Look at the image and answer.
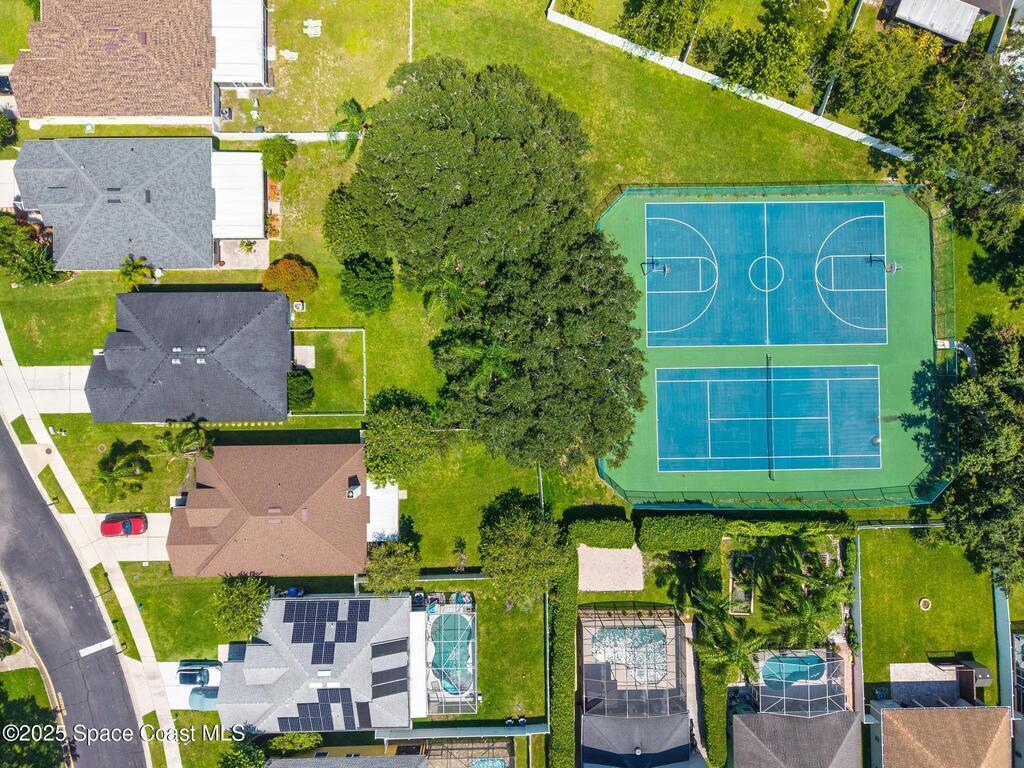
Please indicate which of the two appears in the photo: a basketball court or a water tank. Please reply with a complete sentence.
I can see a basketball court in this picture.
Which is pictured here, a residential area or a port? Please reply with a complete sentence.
The area seen from above is a residential area.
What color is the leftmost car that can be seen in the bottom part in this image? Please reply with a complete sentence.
The color of the leftmost car that can be seen in the bottom part is red.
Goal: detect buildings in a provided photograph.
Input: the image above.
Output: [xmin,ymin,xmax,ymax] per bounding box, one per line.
[84,292,292,426]
[12,137,272,271]
[216,594,430,732]
[888,0,1010,44]
[265,744,430,768]
[583,707,691,768]
[728,705,862,768]
[165,444,402,577]
[872,697,1012,768]
[9,0,272,125]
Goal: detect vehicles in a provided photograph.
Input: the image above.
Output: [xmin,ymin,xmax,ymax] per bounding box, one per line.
[176,667,221,691]
[0,75,13,95]
[99,517,148,539]
[188,689,218,712]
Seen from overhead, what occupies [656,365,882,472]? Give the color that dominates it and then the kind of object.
blue tennis court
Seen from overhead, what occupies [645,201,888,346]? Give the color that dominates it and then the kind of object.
blue basketball court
